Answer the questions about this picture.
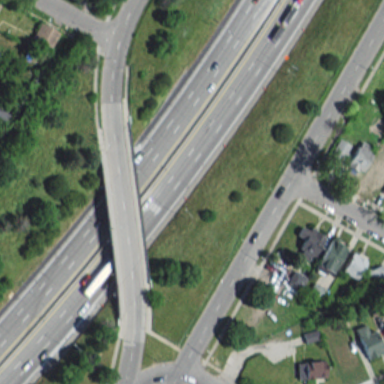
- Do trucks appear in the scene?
Yes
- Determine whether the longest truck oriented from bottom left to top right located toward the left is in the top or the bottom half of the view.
bottom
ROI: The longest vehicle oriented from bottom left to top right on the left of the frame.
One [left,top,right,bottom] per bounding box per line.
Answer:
[83,258,116,297]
